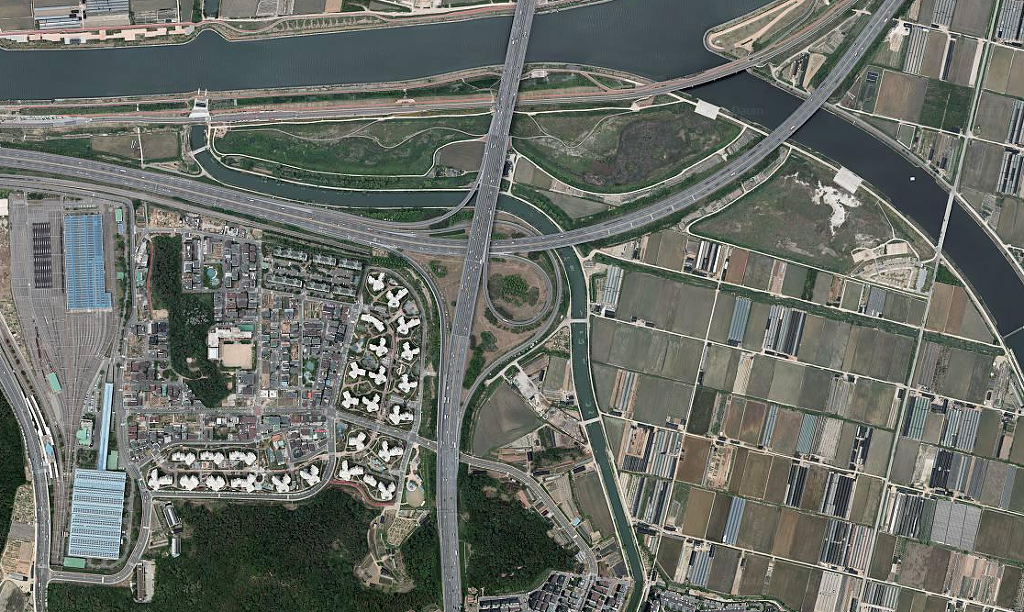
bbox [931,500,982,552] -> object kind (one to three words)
greenhouse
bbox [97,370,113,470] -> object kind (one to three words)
shed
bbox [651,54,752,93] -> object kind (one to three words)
bridge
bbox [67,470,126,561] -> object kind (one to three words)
building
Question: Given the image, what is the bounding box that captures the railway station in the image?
[25,395,59,478]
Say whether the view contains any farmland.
Yes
